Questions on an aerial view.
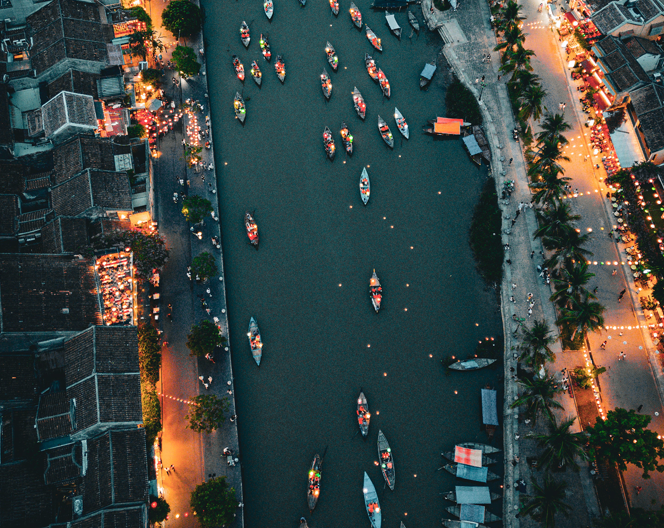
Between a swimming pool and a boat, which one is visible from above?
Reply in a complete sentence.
The one in the frame is a boat.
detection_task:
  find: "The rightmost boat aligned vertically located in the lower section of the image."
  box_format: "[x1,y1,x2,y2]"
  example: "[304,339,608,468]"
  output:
[481,381,499,449]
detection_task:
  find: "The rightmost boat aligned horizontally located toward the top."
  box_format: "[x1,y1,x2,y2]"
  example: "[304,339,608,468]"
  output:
[423,118,472,135]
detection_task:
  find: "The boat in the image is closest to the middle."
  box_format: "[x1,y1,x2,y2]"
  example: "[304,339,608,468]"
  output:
[370,264,387,313]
